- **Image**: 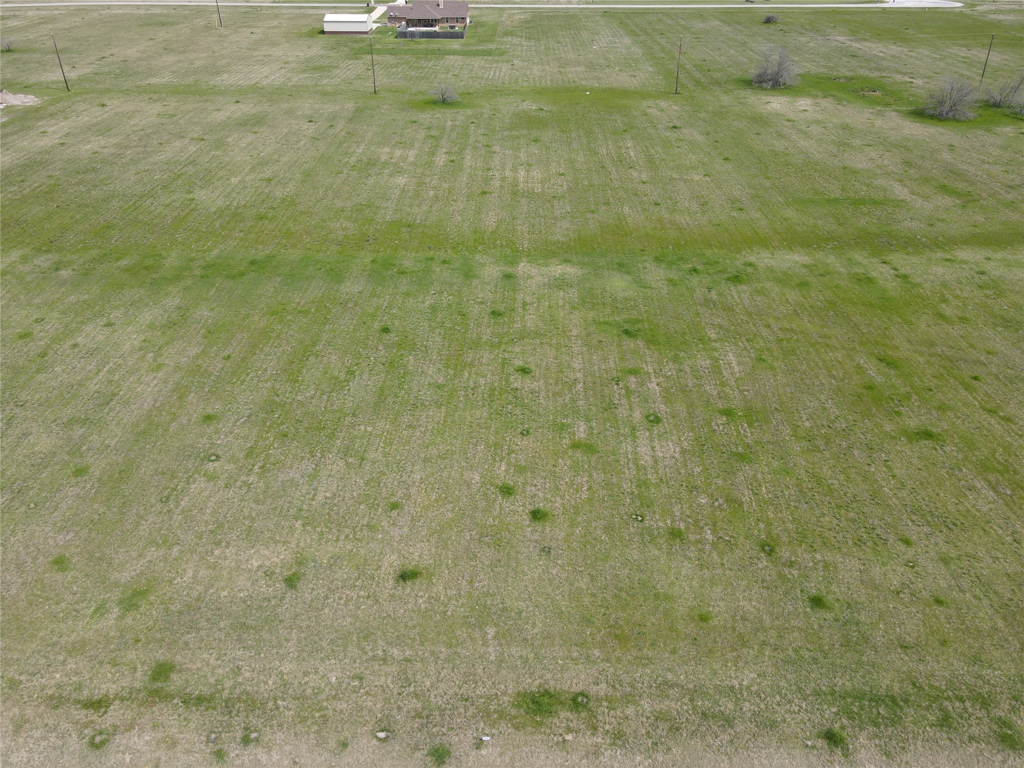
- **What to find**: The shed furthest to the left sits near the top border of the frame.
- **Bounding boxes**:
[322,14,373,35]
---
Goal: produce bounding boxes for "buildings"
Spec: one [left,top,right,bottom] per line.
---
[322,14,373,35]
[385,0,470,28]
